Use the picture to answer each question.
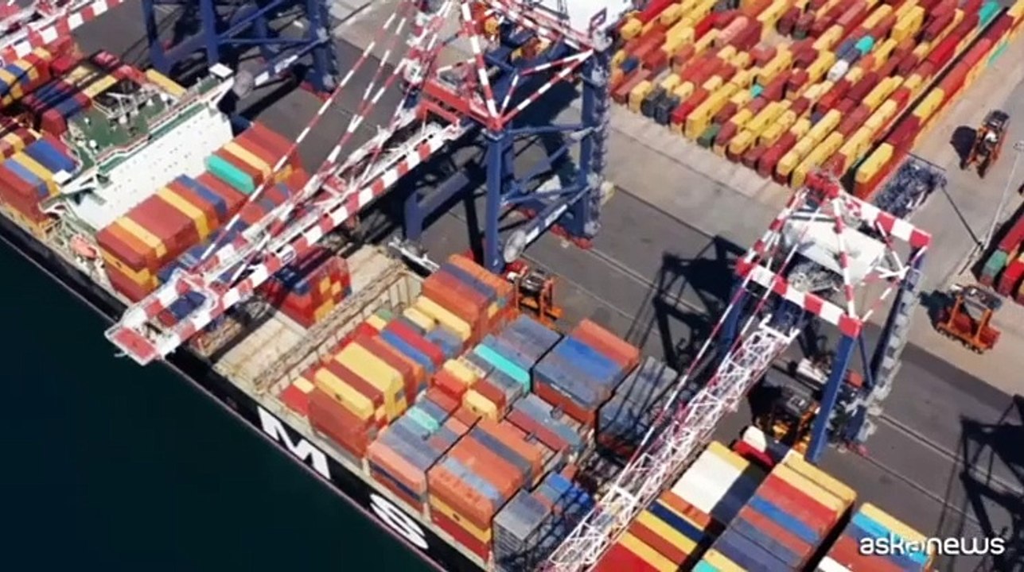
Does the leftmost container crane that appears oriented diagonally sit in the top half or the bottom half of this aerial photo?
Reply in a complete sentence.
The leftmost container crane that appears oriented diagonally is in the top half of the image.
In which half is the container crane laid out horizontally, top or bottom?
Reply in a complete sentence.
It is in the top half that the container crane laid out horizontally appears.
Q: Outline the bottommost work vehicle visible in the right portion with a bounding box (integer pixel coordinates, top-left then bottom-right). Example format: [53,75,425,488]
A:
[749,363,819,448]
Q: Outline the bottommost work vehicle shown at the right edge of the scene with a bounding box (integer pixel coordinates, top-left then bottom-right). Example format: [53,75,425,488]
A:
[927,271,1000,352]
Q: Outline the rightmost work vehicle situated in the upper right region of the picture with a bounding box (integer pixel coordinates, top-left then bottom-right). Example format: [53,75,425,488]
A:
[961,100,1012,172]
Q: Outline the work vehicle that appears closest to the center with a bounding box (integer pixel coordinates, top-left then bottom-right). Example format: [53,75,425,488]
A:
[518,253,573,319]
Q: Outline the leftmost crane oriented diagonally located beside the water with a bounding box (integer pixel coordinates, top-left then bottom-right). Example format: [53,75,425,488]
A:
[100,0,649,376]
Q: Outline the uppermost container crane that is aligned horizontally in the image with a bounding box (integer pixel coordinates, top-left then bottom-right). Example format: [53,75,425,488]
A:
[0,0,326,142]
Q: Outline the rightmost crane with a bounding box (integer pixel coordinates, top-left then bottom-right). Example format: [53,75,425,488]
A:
[525,162,953,572]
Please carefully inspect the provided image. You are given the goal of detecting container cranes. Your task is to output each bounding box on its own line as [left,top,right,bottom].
[0,0,326,142]
[100,0,649,376]
[525,162,953,572]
